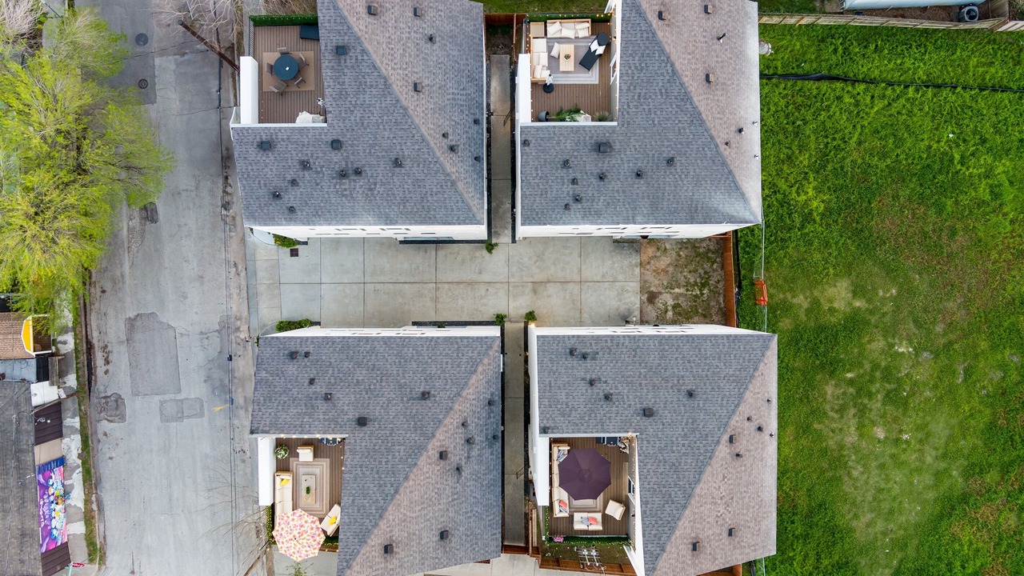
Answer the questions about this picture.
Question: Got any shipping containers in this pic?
No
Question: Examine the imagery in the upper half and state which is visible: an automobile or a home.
home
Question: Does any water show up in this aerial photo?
No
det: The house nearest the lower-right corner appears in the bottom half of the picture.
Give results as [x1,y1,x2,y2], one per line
[529,324,780,576]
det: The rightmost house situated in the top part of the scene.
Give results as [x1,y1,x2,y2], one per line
[516,0,763,239]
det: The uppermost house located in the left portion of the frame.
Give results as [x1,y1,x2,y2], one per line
[232,0,488,239]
